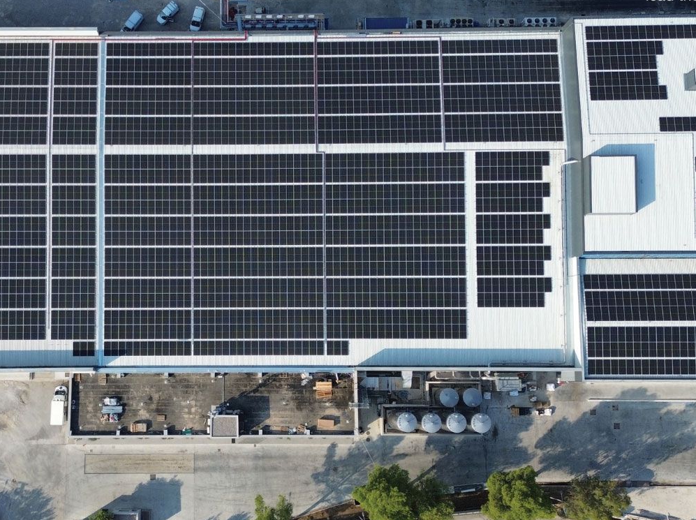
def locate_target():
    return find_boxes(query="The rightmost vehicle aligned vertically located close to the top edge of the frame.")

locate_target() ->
[190,4,205,32]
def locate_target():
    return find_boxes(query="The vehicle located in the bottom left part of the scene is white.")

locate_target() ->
[49,385,69,426]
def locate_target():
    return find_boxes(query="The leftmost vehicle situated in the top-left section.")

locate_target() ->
[120,8,142,32]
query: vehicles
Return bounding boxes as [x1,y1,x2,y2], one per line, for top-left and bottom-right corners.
[157,0,178,27]
[120,8,142,32]
[49,385,69,426]
[190,4,205,32]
